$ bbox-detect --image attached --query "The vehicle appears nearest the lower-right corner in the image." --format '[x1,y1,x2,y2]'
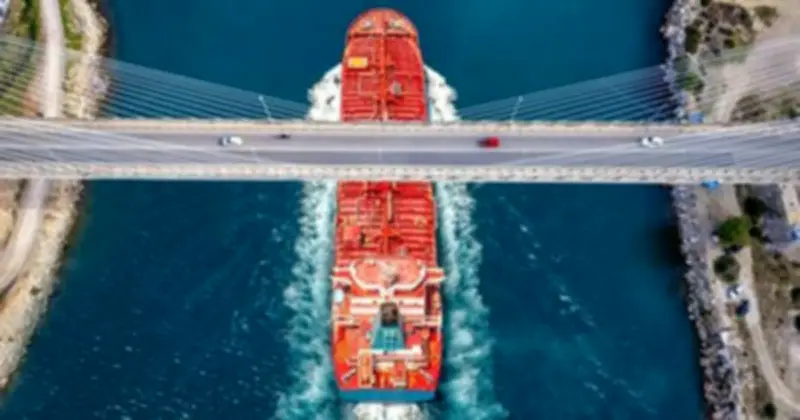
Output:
[740,300,753,319]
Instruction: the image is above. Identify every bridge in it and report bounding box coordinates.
[0,30,800,182]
